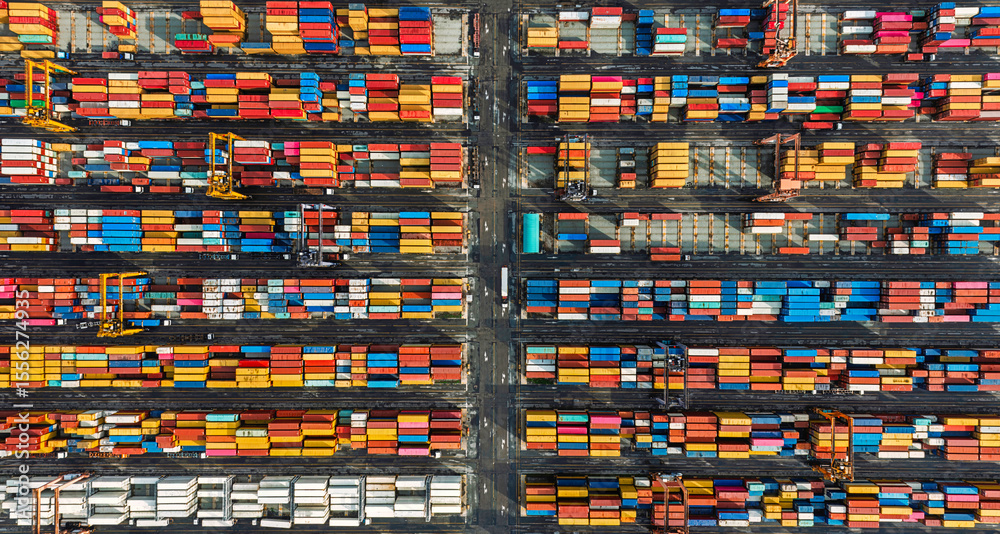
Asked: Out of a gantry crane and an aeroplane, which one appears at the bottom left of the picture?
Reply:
gantry crane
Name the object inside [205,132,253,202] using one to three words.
container crane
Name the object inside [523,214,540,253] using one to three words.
shed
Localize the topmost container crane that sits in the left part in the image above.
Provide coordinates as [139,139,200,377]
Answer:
[24,57,81,135]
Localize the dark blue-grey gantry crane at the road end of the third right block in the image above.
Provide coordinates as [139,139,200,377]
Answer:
[558,132,591,203]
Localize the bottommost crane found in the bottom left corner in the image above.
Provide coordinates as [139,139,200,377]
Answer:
[33,474,92,534]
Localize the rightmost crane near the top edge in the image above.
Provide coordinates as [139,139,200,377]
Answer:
[753,0,797,66]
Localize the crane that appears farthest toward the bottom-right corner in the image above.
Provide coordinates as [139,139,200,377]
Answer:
[806,407,854,485]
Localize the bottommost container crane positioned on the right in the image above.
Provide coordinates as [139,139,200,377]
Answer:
[649,473,688,534]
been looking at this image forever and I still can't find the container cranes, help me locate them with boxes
[806,407,854,485]
[297,203,338,269]
[24,57,81,135]
[754,133,801,205]
[649,340,688,415]
[33,474,92,534]
[753,0,797,66]
[99,271,151,339]
[205,132,253,202]
[649,473,688,534]
[558,132,591,203]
